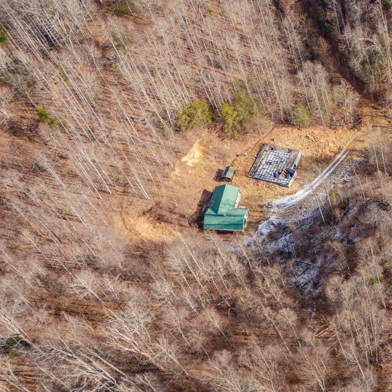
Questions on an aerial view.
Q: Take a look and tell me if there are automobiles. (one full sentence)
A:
No, no automobile is visible in the scene.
